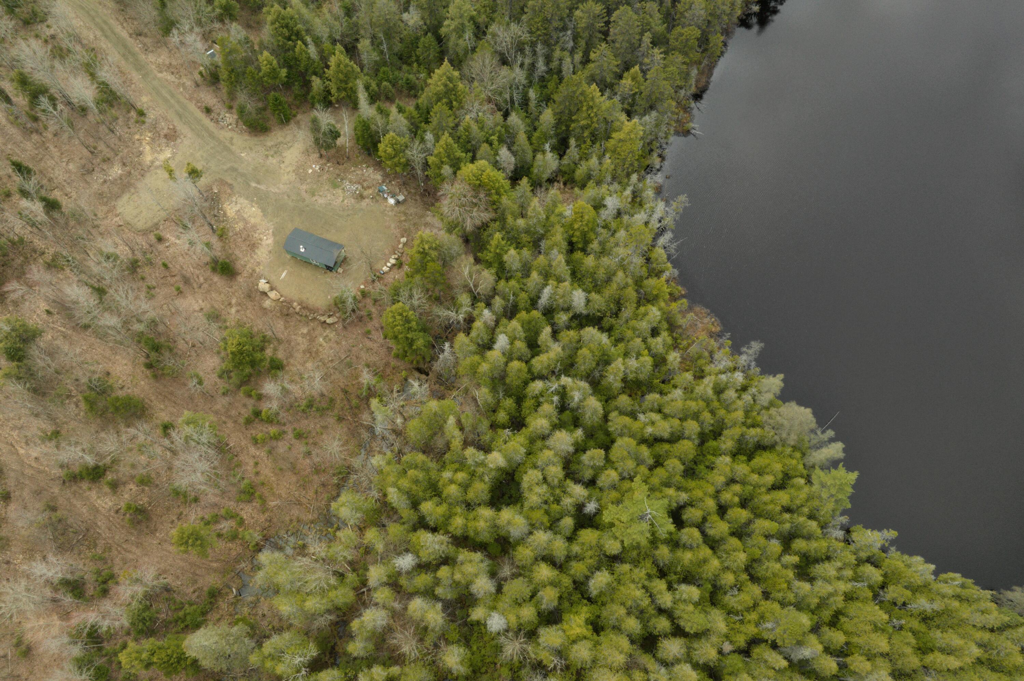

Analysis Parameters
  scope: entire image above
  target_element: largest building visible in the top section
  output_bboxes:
[283,228,346,272]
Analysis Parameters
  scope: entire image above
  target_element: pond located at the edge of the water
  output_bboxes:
[656,0,1024,623]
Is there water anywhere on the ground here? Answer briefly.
Yes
